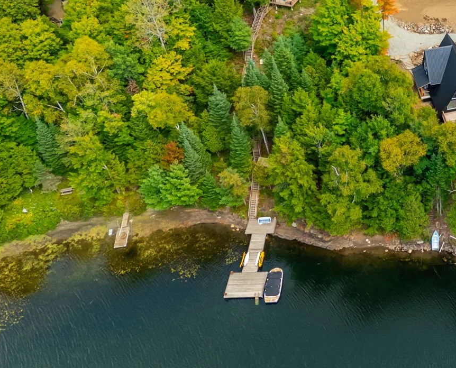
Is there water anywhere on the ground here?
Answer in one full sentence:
Yes, water shows up in the scene.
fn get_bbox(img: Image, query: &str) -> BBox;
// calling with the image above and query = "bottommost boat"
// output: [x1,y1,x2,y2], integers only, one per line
[262,265,282,302]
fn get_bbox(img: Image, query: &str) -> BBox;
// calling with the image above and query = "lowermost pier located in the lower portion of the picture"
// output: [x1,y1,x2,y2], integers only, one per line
[223,272,269,299]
